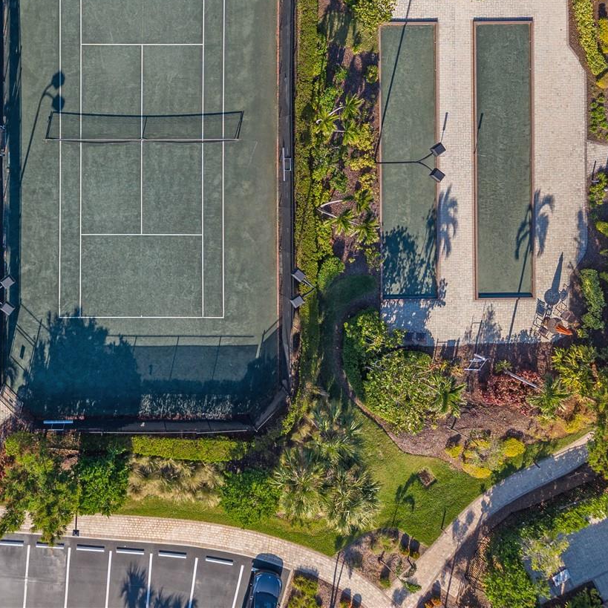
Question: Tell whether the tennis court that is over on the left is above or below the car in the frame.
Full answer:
As seen from overhead, the tennis court that is over on the left falls above the car in the picture.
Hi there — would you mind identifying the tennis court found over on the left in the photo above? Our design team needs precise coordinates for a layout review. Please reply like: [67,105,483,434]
[8,0,280,419]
